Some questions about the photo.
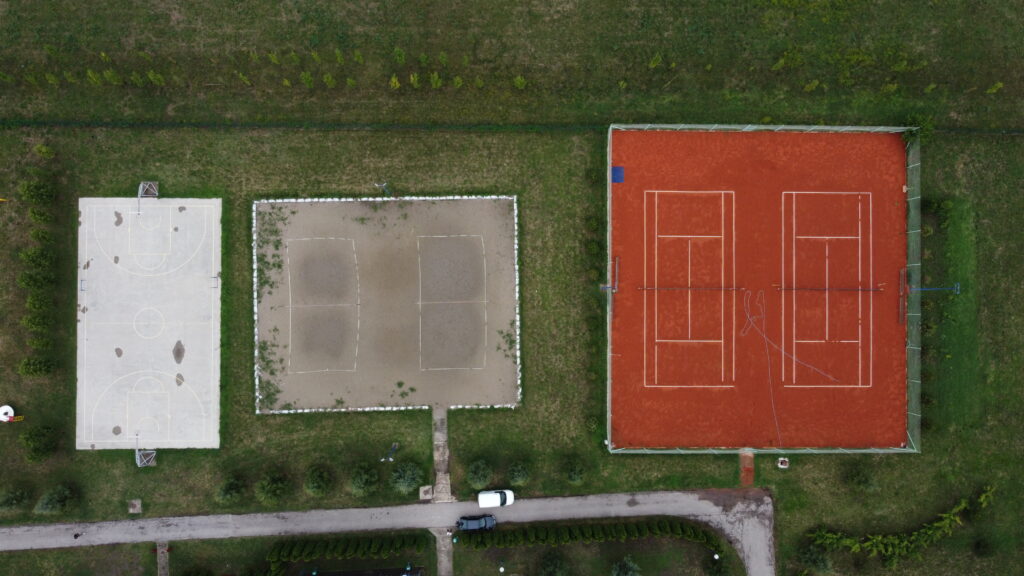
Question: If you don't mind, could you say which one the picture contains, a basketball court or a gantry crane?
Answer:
basketball court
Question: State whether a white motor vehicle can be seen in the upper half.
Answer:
No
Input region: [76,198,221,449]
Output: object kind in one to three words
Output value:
basketball court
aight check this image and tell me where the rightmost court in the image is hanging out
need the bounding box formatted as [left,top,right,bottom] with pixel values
[759,130,908,448]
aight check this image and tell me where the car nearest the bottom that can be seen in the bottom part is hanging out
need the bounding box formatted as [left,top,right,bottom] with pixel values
[459,514,496,531]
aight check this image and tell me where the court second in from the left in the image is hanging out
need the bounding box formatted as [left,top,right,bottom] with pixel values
[254,198,390,413]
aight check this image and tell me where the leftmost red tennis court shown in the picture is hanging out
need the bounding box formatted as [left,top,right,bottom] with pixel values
[608,130,759,448]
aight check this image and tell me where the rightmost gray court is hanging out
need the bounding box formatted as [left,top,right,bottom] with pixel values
[388,196,520,409]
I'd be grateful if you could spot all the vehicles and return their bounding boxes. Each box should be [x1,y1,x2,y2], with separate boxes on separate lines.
[459,514,496,531]
[476,488,514,507]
